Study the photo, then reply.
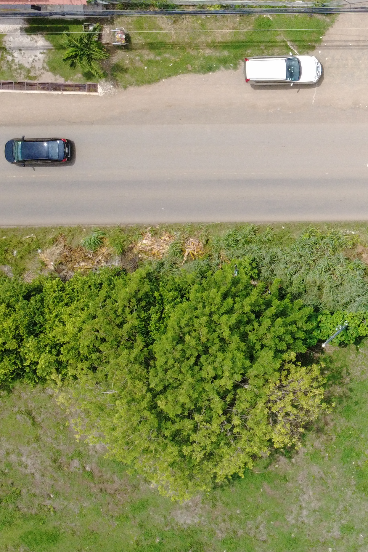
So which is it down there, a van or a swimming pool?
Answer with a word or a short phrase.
van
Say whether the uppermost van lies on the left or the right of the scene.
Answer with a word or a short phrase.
right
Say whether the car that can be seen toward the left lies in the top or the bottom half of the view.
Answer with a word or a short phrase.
top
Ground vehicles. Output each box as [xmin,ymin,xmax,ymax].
[2,134,68,168]
[248,52,325,88]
